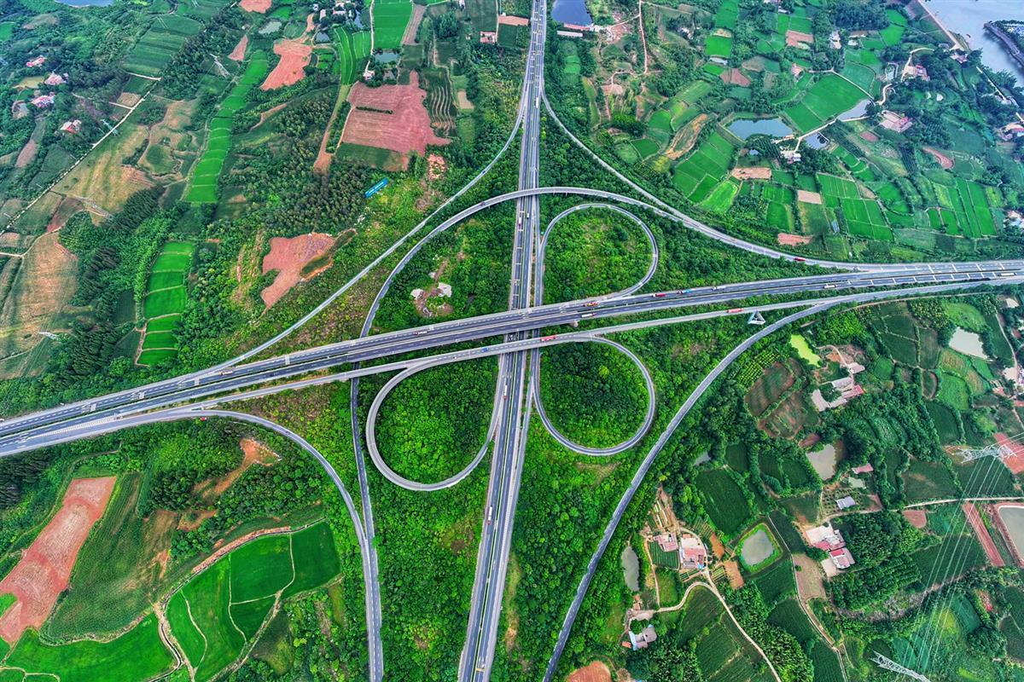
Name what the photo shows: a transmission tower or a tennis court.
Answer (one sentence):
I can see a transmission tower in this picture.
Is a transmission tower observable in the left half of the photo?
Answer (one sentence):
Yes, a transmission tower can be seen in the left half of the photo.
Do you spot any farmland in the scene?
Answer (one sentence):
Yes, farmland shows up in the scene.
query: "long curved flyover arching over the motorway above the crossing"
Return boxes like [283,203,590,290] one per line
[405,188,741,260]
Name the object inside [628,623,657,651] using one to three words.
house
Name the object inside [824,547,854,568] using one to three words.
house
